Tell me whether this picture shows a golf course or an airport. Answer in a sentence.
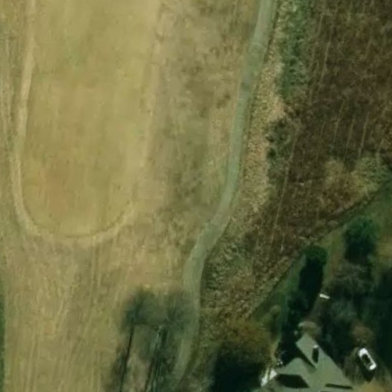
The area seen from above is a golf course.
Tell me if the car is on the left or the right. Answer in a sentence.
The car appears in the right half of the scene.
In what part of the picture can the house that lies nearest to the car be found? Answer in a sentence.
Look in the bottom right portion of the view to spot the house that lies nearest to the car.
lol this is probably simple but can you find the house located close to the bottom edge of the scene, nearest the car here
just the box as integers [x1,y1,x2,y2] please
[248,330,360,392]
